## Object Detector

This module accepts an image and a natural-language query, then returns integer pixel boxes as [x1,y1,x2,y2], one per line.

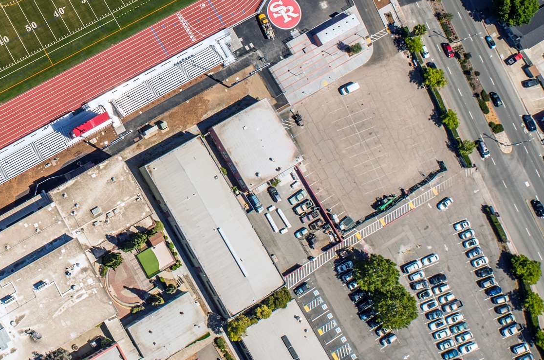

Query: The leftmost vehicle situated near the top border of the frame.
[258,13,275,40]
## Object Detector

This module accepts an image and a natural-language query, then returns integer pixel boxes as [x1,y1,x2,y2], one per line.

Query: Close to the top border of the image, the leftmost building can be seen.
[311,13,360,48]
